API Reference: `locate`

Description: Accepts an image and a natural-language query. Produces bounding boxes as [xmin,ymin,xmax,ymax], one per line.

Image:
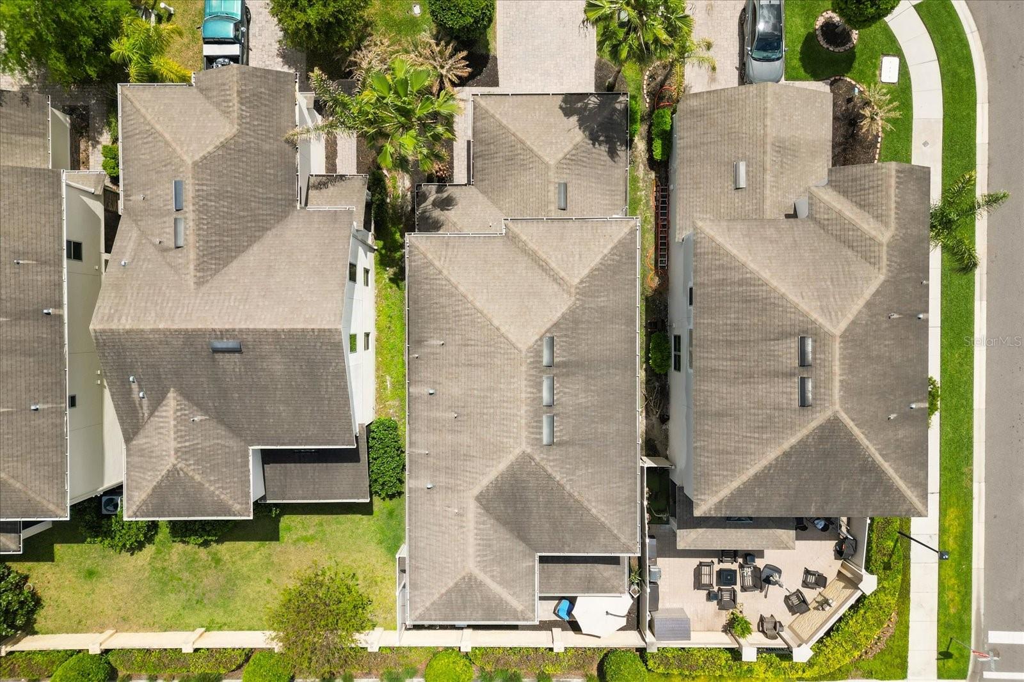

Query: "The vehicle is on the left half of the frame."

[203,0,249,72]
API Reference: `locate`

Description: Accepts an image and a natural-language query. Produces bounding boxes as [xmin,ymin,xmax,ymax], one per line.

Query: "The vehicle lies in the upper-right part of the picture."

[744,0,791,84]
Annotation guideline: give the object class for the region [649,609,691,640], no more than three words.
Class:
shed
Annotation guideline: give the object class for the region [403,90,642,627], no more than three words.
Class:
house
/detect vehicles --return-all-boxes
[744,0,791,84]
[203,0,249,72]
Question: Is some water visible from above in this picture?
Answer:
No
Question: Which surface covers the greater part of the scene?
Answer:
buildings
